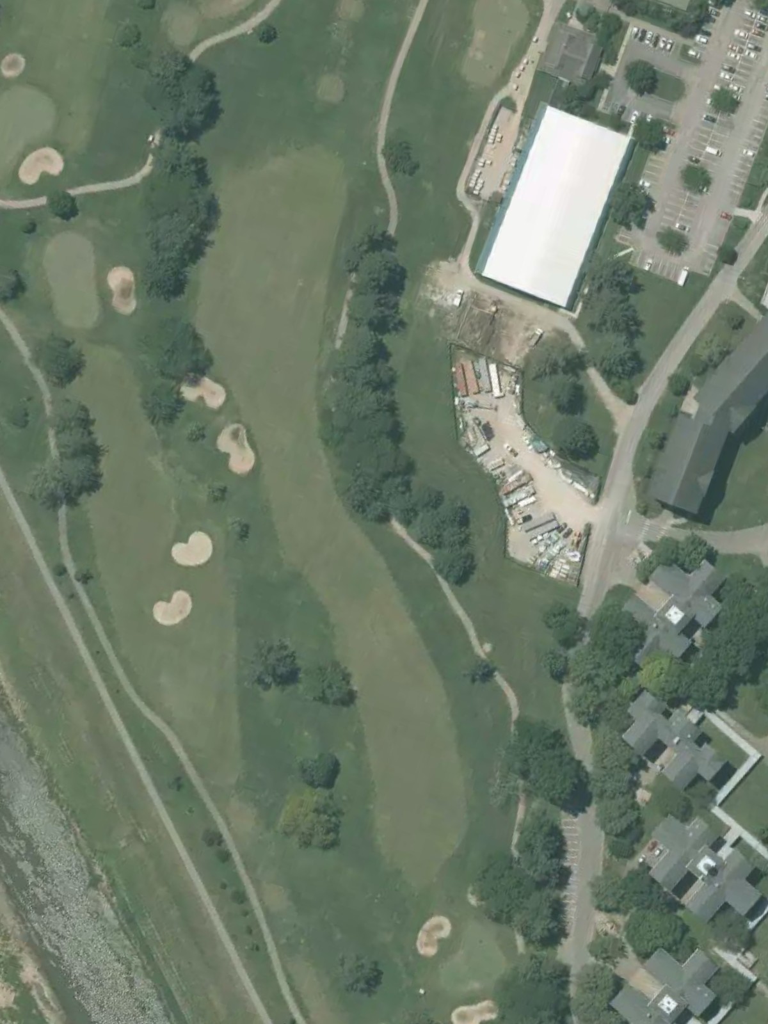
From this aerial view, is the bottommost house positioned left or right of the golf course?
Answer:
right of it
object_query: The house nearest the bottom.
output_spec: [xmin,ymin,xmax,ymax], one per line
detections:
[609,945,719,1024]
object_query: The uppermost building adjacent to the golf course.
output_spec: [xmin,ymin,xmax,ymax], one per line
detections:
[536,23,606,82]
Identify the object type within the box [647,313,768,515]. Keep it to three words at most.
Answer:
building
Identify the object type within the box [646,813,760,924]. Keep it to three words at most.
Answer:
house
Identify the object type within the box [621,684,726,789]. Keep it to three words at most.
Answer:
house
